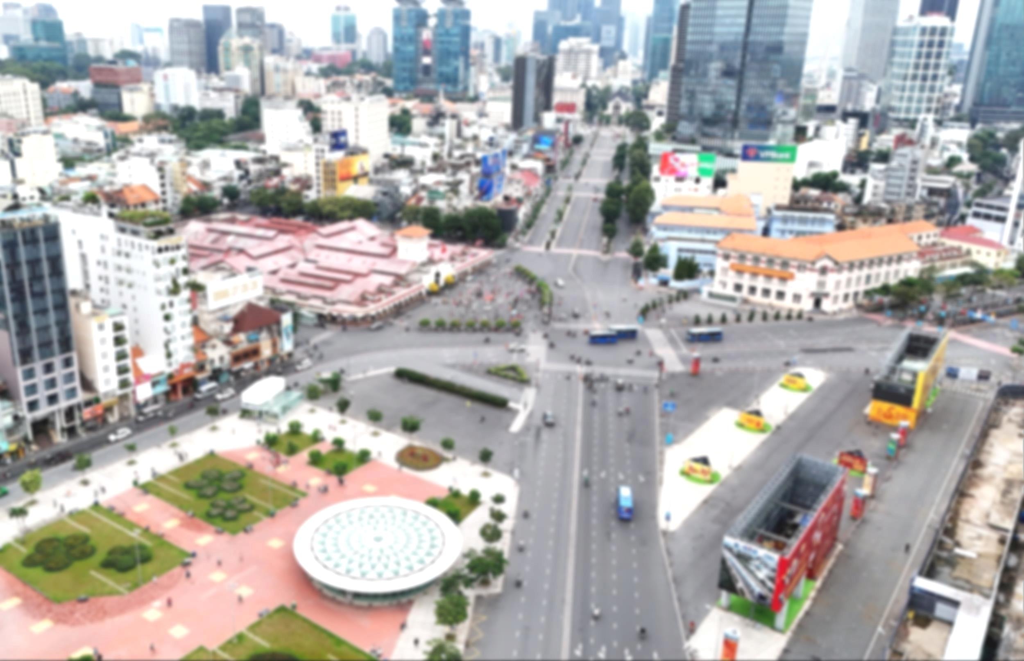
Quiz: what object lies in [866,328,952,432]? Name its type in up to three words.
building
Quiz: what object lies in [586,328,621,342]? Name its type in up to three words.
vehicle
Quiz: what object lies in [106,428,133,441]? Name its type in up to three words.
vehicle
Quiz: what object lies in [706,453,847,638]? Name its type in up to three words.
building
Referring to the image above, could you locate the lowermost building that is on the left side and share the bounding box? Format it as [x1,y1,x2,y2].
[292,498,462,614]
